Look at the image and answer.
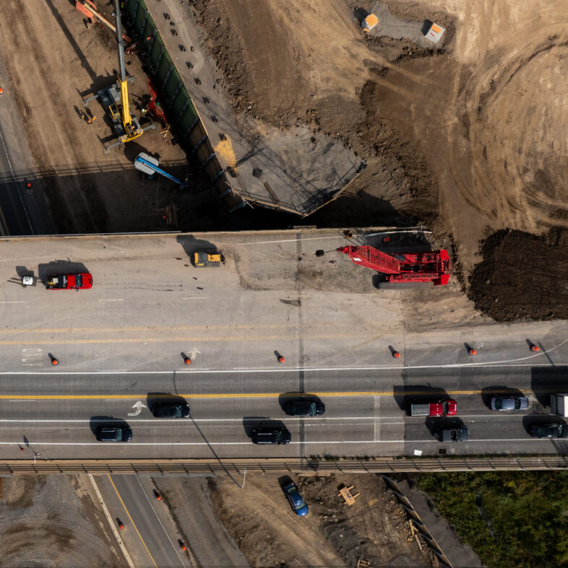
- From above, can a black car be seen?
Yes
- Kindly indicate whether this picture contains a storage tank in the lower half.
No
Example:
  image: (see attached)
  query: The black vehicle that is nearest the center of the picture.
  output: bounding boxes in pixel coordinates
[285,400,323,417]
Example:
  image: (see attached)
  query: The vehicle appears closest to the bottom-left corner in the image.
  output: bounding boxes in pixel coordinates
[96,425,132,442]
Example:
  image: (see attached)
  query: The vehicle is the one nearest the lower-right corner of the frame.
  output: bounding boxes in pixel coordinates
[529,421,567,438]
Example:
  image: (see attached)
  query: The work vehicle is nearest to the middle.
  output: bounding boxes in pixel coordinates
[196,252,225,268]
